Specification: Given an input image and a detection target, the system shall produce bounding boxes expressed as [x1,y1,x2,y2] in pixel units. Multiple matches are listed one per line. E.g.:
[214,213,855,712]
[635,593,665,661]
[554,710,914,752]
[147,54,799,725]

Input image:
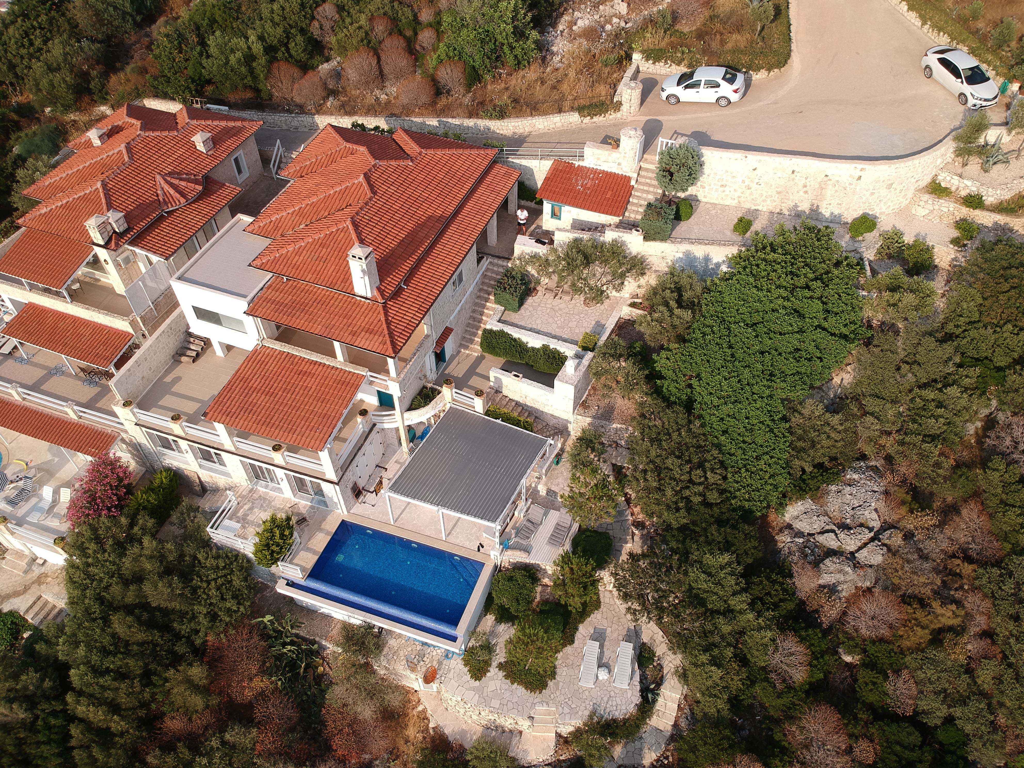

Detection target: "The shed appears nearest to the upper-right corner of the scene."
[533,165,632,231]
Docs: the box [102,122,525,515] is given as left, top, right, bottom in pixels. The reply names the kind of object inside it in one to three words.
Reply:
house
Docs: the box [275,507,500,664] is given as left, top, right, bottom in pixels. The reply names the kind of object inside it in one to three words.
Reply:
swimming pool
